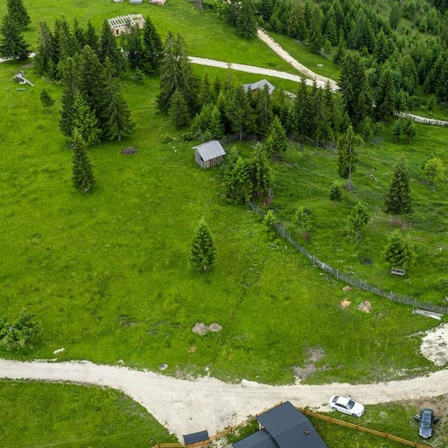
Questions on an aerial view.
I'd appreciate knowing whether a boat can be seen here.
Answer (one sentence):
No, no boat is visible in the view.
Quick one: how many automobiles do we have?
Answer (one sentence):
The count of automobiles comes to 2.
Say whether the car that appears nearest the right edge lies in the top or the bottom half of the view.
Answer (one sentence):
You can find the car that appears nearest the right edge in the bottom half.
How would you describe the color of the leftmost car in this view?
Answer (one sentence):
From above, the leftmost car appears white.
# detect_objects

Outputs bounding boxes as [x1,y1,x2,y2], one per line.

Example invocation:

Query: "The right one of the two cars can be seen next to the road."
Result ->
[411,405,443,440]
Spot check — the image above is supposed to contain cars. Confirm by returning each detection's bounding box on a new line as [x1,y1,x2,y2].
[327,392,366,418]
[411,405,443,440]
